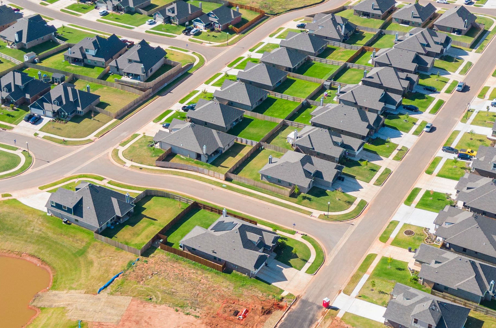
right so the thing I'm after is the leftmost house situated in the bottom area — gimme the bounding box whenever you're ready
[43,181,135,234]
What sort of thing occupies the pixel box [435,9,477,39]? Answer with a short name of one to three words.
house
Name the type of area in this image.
residential area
